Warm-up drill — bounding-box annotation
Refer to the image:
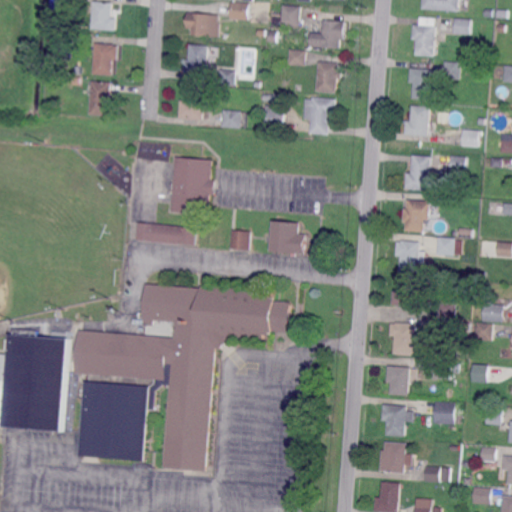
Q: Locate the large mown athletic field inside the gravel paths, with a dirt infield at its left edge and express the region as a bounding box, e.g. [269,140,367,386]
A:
[0,144,124,320]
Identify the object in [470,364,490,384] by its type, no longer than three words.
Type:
building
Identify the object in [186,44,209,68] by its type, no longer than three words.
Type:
house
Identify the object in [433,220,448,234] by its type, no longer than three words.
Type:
swimming pool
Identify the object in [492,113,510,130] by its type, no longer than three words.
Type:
swimming pool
